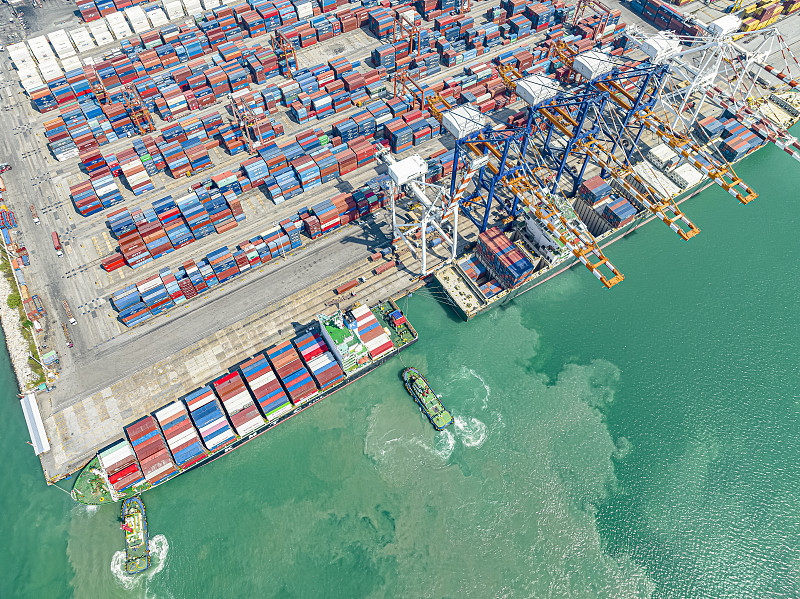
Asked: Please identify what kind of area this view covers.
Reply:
port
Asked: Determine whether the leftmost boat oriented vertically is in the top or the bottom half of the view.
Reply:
bottom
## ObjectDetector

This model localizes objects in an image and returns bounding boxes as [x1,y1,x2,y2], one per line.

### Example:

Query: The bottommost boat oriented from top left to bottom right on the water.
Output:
[402,369,454,430]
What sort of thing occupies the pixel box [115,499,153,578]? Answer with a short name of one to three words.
boat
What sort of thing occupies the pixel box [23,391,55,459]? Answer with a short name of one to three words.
shed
